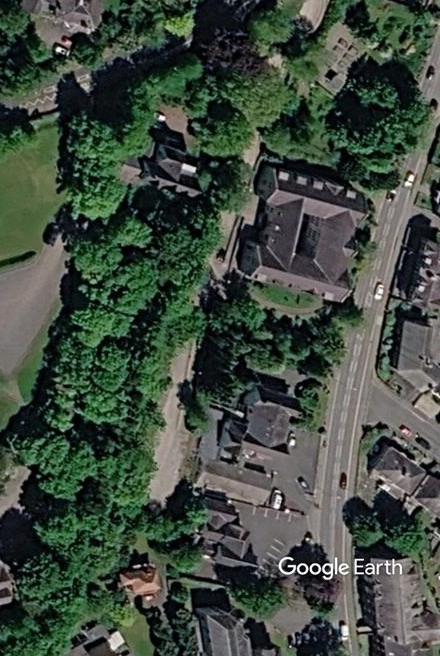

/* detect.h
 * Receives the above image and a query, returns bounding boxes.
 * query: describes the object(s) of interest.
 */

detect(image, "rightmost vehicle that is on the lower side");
[415,436,430,449]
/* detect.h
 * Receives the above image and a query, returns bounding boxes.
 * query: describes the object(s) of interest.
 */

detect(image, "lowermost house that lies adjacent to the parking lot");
[192,604,275,656]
